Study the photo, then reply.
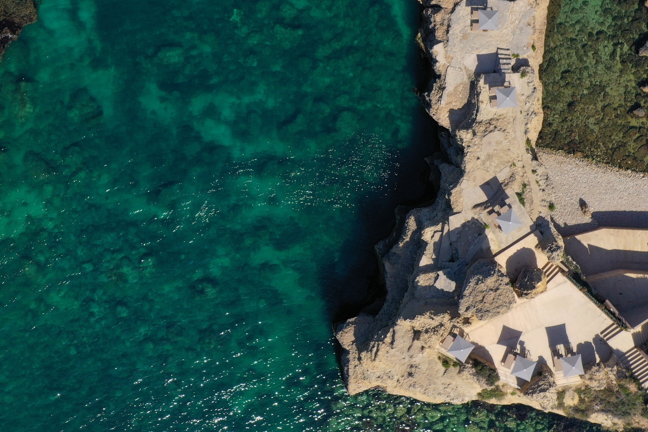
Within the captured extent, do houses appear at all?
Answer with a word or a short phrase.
No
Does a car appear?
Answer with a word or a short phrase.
No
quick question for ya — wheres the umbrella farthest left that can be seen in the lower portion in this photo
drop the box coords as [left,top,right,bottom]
[445,335,474,363]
